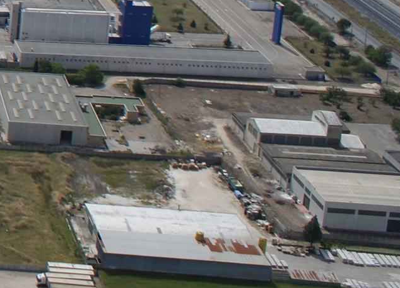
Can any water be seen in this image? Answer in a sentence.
No, there is no water in the image.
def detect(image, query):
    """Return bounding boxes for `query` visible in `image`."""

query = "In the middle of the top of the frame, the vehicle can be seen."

[150,21,170,41]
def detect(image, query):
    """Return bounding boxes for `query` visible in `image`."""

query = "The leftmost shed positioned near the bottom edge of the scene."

[79,205,271,279]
